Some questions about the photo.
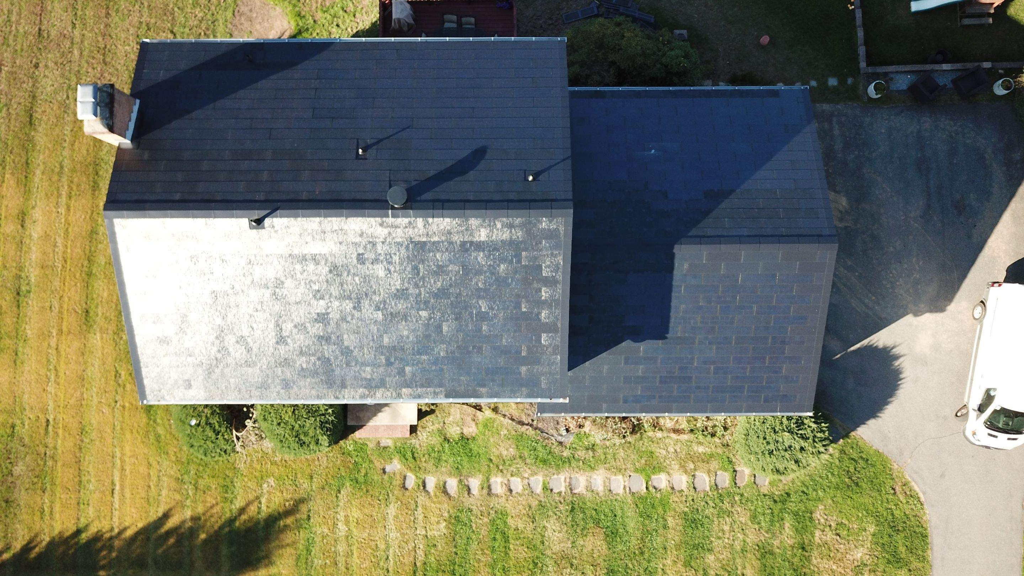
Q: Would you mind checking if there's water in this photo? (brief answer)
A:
No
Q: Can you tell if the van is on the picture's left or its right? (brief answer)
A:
right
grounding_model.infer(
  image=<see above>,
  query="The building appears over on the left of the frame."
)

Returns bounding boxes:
[77,36,573,405]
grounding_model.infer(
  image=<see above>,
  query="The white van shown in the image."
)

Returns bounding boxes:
[956,280,1024,447]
